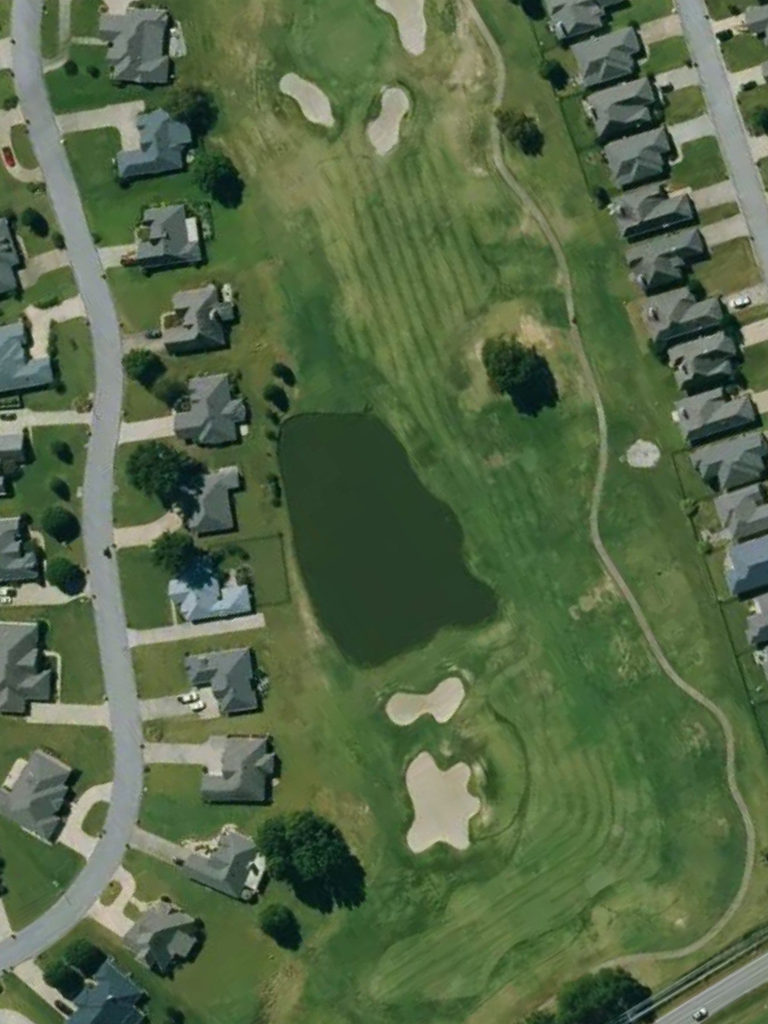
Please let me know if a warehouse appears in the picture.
No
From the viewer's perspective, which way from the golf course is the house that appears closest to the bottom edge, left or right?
left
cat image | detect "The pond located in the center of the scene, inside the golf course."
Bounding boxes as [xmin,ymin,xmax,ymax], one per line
[279,413,498,668]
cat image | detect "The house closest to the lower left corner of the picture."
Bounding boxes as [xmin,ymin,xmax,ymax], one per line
[54,960,155,1024]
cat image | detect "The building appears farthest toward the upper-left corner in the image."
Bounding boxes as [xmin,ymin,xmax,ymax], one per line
[98,8,170,82]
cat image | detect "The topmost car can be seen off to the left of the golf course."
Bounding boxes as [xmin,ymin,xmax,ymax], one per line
[2,146,14,167]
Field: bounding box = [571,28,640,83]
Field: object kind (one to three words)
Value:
house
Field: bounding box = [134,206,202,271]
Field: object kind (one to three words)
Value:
house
